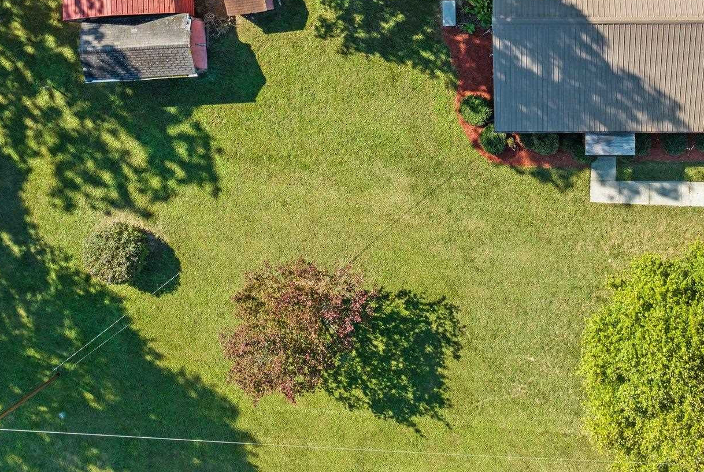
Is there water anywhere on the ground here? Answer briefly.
No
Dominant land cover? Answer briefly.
grass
